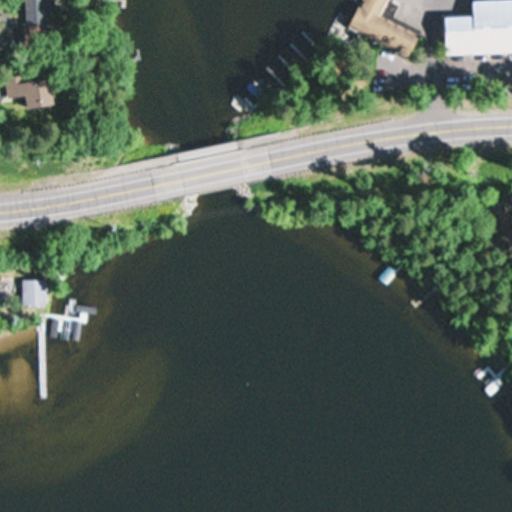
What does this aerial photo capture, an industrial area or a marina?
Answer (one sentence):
What you see here is a marina.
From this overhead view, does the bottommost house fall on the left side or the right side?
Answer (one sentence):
The bottommost house appears in the left half of the scene.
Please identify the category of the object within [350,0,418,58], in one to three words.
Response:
building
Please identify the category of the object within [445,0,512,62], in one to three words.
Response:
building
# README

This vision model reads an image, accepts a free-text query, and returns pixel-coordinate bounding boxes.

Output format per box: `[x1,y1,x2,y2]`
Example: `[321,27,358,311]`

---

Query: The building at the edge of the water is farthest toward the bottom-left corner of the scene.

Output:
[22,279,48,308]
